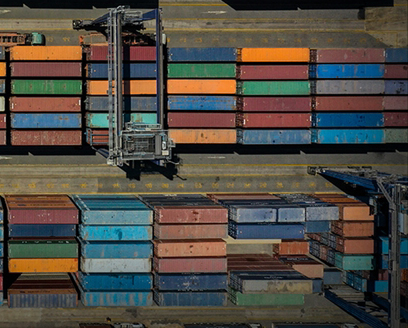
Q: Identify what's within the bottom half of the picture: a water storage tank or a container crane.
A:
container crane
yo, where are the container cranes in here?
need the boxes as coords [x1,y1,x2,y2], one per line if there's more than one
[71,6,177,171]
[303,165,408,328]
